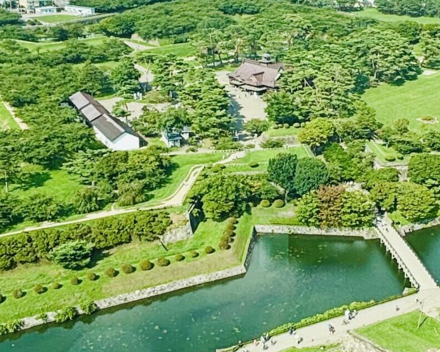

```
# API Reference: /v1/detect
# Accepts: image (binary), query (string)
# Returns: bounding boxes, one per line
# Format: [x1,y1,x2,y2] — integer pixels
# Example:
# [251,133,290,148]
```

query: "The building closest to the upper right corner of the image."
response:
[230,58,288,94]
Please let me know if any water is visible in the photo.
Yes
